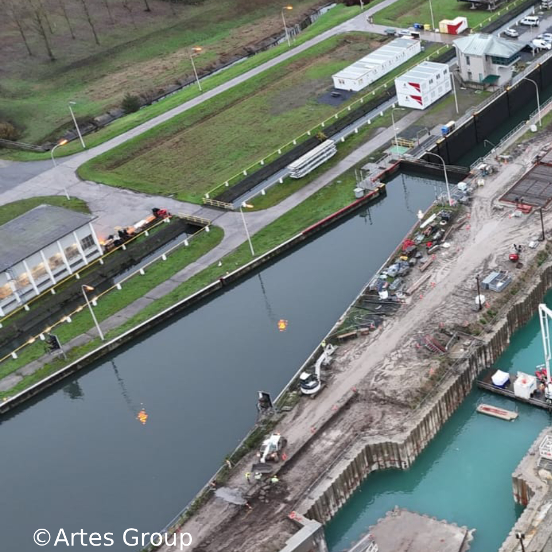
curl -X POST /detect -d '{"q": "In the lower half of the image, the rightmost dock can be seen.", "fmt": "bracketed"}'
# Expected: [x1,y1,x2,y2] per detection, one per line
[477,373,552,410]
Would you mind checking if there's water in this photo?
Yes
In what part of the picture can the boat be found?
bottom right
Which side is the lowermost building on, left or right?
left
